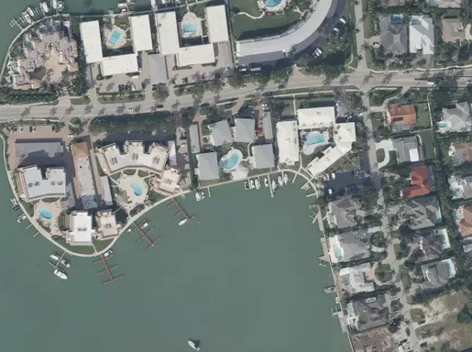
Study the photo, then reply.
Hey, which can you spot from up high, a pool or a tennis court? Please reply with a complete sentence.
Visible in the photo is a pool.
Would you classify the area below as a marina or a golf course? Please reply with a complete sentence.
This image shows a marina.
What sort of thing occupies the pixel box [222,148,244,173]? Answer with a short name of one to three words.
swimming pool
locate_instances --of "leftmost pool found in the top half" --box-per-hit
[104,26,127,48]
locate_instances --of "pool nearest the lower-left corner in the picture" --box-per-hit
[34,201,61,238]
